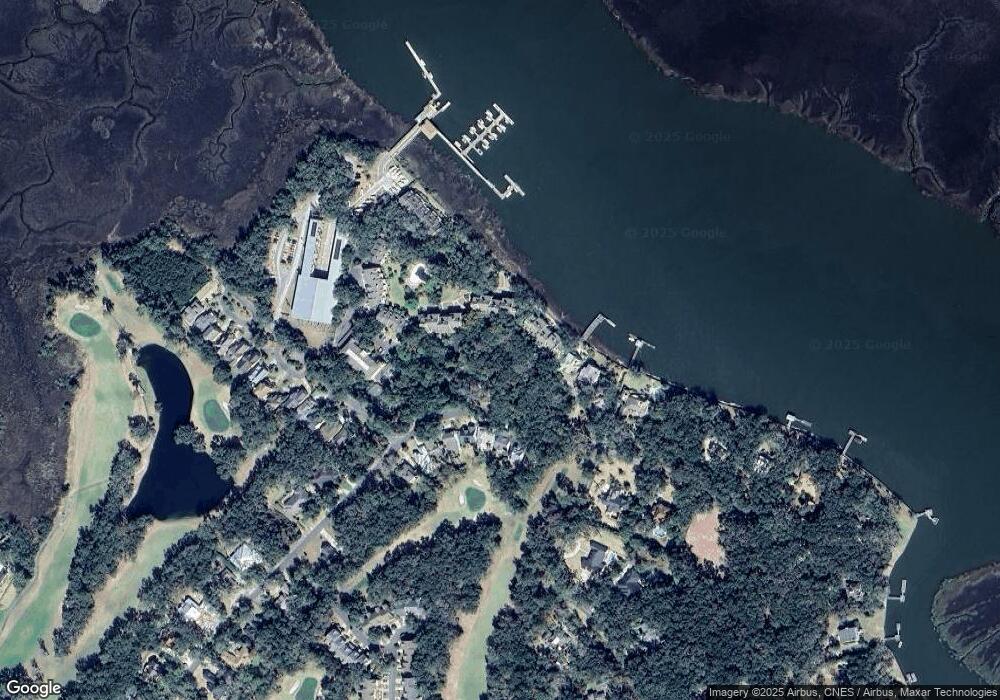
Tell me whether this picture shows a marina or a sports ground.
marina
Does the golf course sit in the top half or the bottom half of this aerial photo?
bottom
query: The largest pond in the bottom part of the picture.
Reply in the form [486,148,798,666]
[128,345,230,518]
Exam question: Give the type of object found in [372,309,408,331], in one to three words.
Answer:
building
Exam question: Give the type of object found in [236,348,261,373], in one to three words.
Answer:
house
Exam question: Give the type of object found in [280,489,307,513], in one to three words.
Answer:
house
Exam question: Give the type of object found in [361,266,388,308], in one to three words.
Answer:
building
